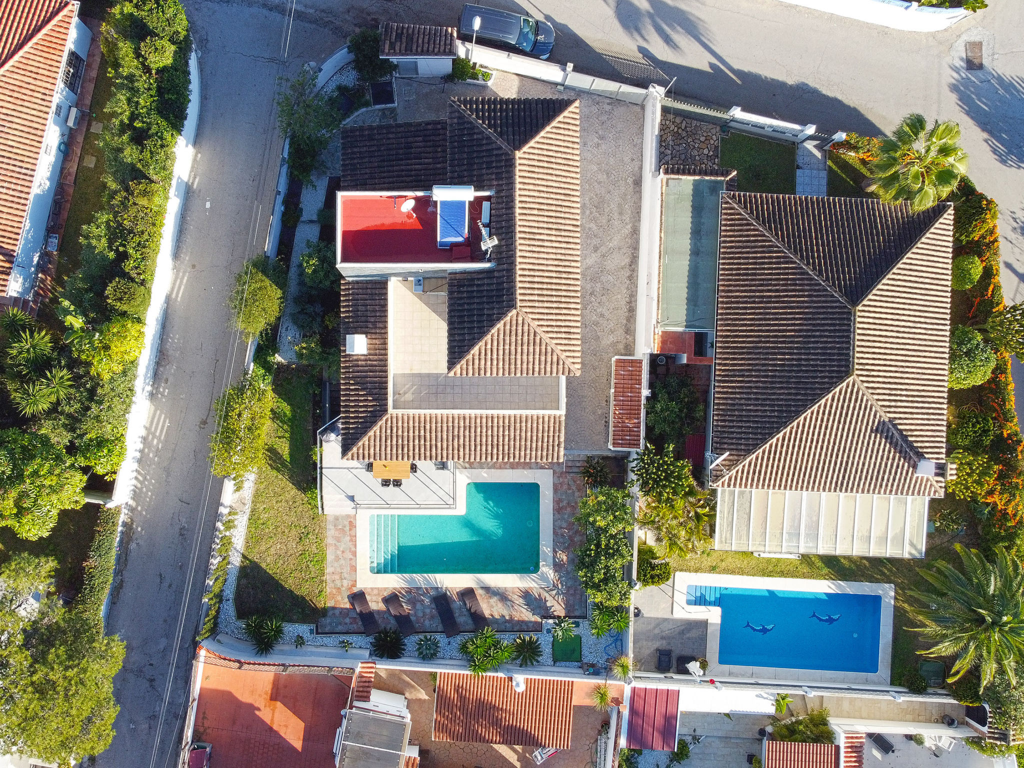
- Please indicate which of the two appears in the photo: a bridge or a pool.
pool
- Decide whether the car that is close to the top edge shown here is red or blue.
blue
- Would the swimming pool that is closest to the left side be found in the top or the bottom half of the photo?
bottom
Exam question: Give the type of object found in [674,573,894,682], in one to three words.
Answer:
swimming pool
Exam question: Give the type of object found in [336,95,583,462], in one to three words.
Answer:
house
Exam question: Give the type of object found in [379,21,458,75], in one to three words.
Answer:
shed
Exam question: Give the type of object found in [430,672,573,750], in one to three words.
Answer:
building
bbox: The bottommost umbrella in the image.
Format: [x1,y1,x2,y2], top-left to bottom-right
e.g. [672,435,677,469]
[685,662,701,678]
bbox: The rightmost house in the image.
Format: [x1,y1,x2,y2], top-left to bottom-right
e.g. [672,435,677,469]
[701,190,958,500]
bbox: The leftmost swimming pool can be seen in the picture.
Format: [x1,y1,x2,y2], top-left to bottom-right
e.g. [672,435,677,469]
[356,469,552,588]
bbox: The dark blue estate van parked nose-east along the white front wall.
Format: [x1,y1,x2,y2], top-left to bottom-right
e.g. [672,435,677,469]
[458,0,553,62]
